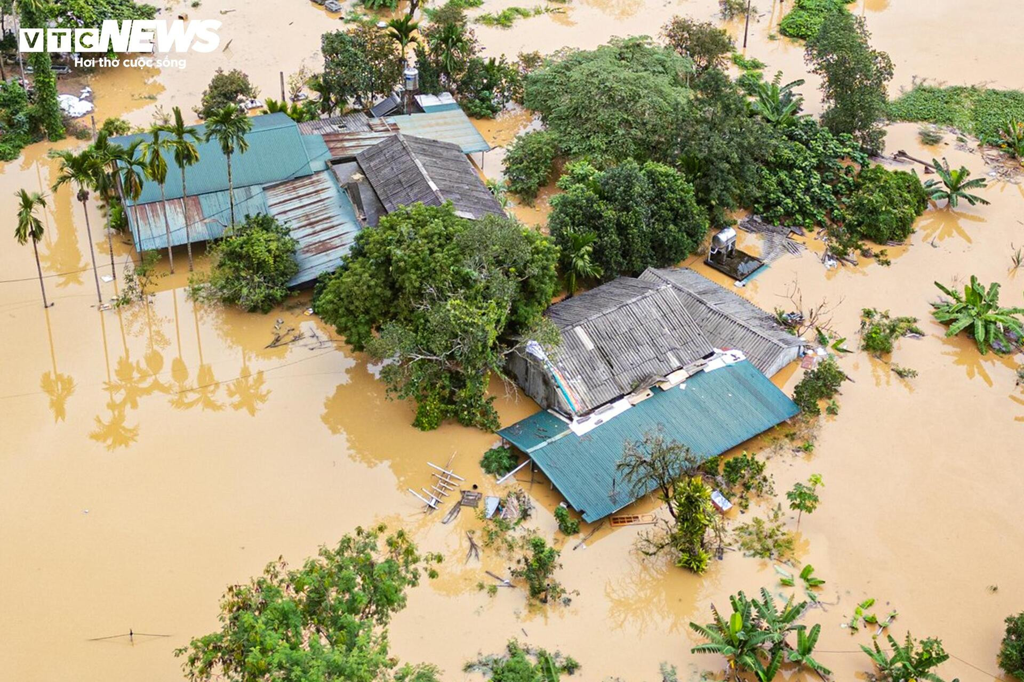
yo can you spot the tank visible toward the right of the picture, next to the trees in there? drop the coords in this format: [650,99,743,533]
[707,222,743,259]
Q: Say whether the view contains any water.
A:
Yes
